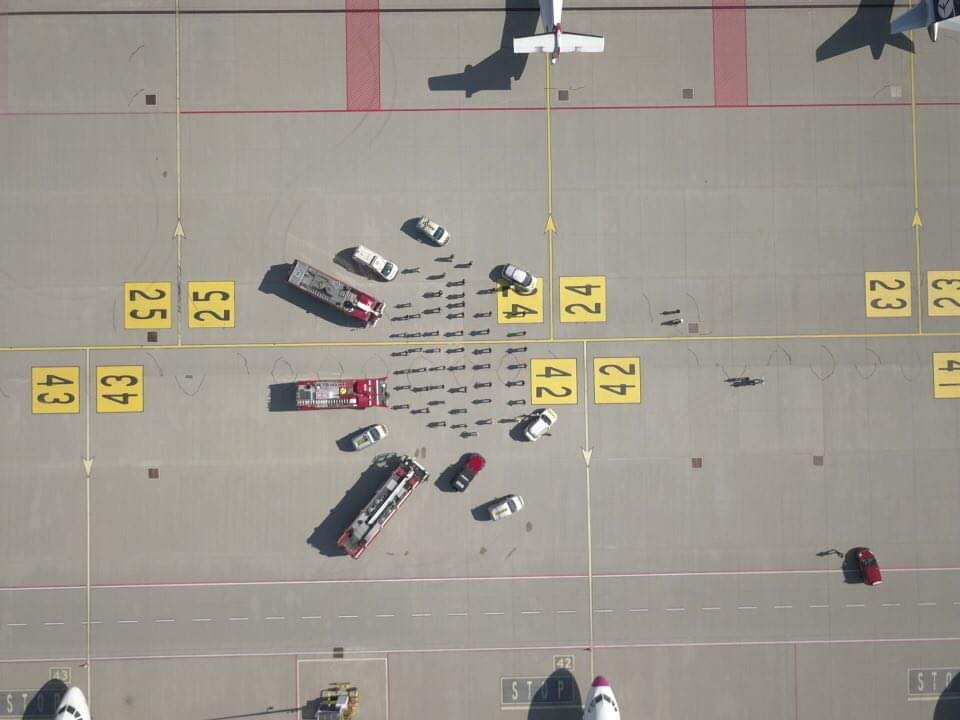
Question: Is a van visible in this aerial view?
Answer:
Yes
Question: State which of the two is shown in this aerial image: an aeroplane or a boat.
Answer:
aeroplane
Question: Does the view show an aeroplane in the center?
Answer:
No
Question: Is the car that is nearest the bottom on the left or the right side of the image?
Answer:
right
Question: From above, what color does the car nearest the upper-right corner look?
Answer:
white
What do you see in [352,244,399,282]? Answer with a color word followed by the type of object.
white van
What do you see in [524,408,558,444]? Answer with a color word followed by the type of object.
white car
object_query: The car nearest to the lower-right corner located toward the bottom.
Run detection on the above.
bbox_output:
[855,548,884,586]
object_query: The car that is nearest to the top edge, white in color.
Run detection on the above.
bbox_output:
[415,214,451,247]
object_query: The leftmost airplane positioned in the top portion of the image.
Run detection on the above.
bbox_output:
[514,0,604,63]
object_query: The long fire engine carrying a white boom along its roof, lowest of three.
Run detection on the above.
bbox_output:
[337,455,428,562]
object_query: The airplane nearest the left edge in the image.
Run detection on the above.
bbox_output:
[54,687,95,720]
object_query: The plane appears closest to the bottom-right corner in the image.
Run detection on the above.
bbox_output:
[584,676,621,720]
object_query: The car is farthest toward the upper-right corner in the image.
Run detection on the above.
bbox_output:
[500,262,538,292]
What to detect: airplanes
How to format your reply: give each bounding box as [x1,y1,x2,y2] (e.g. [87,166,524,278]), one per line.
[584,676,621,720]
[54,687,95,720]
[889,0,960,41]
[514,0,604,63]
